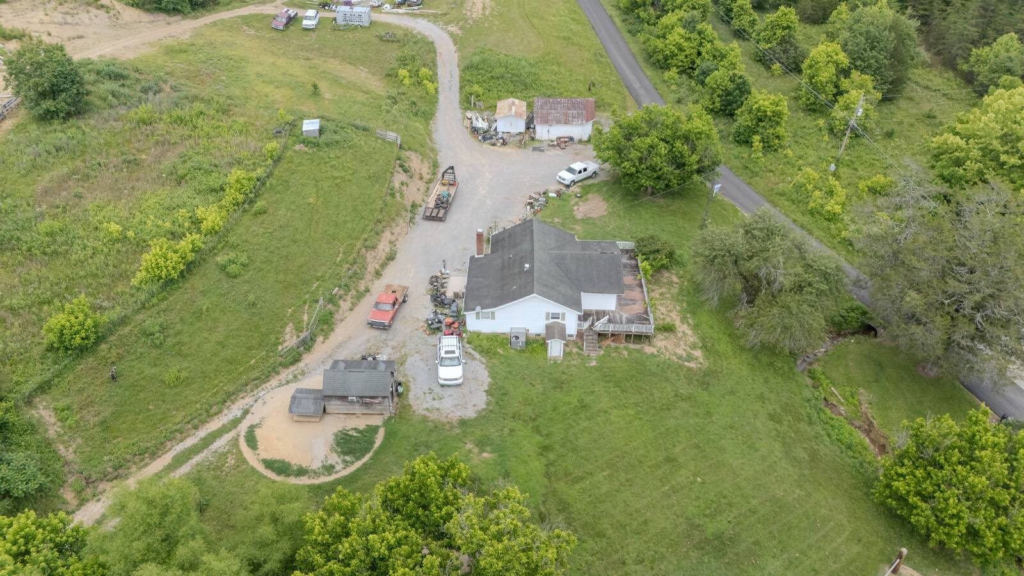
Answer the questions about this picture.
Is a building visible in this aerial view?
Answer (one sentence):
Yes, there's a building here.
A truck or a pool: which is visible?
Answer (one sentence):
Looking from above, you can make out a truck.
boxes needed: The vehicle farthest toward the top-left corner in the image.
[272,12,298,31]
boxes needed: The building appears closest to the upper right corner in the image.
[534,98,596,142]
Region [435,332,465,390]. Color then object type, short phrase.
white car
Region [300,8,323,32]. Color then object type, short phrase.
white car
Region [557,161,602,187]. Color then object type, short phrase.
white truck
